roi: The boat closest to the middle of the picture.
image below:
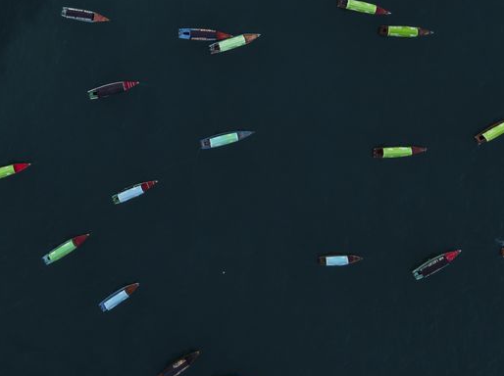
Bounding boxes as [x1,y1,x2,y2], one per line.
[199,130,256,149]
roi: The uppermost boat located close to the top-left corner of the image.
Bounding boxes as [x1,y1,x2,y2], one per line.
[62,6,110,22]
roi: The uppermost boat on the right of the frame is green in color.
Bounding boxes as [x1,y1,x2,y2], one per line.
[336,0,392,14]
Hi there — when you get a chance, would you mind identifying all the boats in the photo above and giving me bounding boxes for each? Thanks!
[336,0,392,14]
[474,120,504,146]
[0,162,31,178]
[413,251,462,281]
[41,234,90,266]
[373,146,428,158]
[319,255,362,267]
[378,26,435,37]
[87,81,140,101]
[62,6,110,22]
[99,284,140,312]
[199,130,256,149]
[111,181,159,205]
[208,34,262,53]
[179,29,233,40]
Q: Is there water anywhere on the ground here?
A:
Yes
